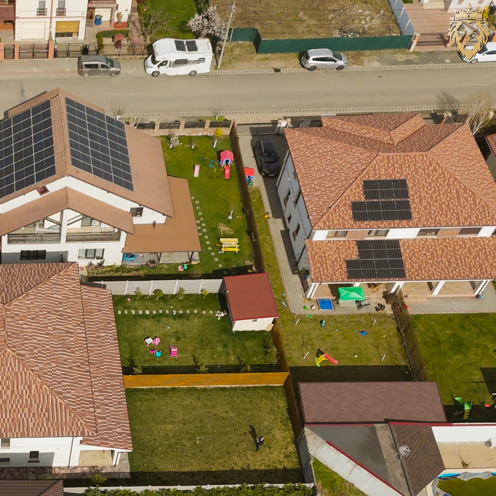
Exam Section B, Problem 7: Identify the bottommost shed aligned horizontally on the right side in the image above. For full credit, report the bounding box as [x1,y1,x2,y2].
[294,383,447,436]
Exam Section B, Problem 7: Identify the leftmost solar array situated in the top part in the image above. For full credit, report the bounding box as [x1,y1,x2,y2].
[0,102,58,196]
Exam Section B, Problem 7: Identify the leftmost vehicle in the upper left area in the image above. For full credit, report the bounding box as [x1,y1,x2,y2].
[80,52,122,75]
